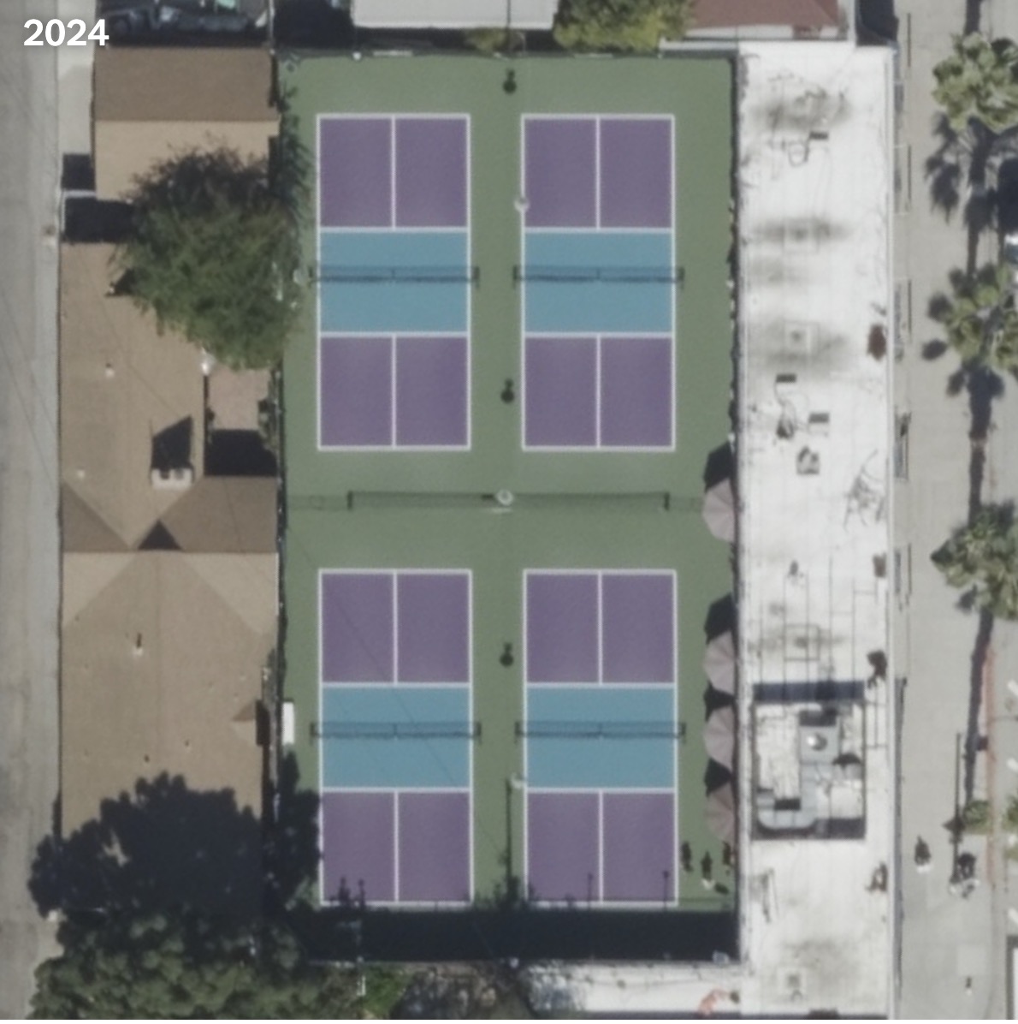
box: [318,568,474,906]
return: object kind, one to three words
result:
sports court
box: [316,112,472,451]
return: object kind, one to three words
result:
sports court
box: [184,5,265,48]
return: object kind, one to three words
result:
car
